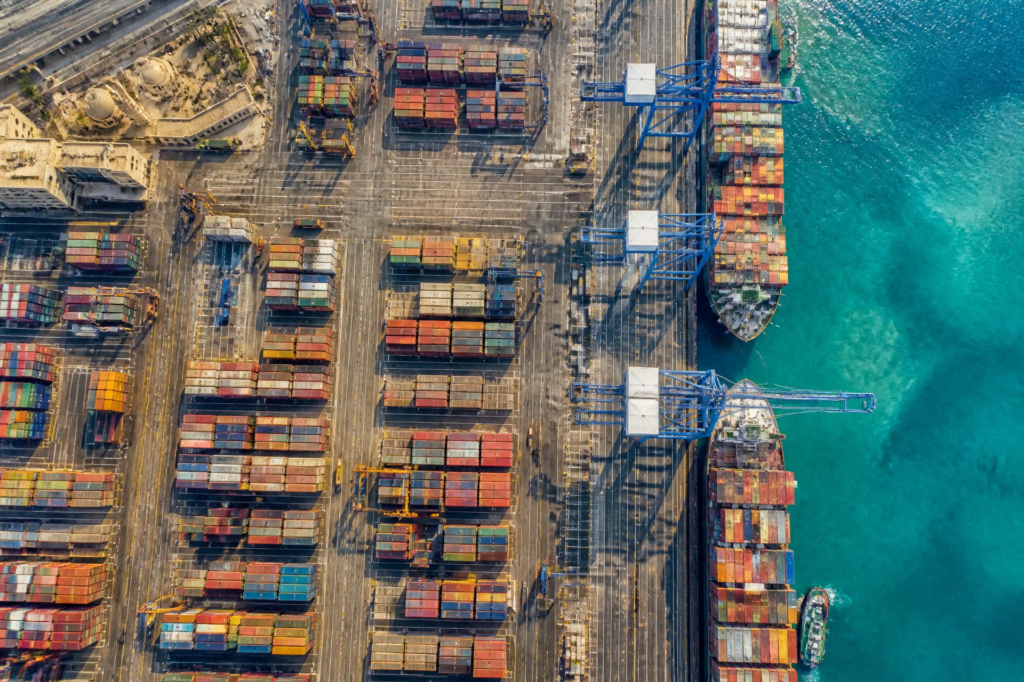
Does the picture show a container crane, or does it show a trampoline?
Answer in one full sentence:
Of the two, only a container crane appears.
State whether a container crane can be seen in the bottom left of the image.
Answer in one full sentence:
Yes, I can see a container crane in the bottom left of the image.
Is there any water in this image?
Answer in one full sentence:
Yes, there's water in this view.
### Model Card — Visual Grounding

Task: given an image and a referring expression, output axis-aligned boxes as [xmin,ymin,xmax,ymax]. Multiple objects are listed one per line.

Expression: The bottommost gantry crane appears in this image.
[135,576,206,626]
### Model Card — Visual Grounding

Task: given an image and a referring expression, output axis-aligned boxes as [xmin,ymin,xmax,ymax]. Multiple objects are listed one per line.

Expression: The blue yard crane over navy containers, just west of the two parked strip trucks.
[489,261,550,308]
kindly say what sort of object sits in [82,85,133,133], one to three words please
building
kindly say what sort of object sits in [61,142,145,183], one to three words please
building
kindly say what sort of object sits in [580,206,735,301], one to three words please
container crane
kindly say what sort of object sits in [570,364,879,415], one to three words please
container crane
